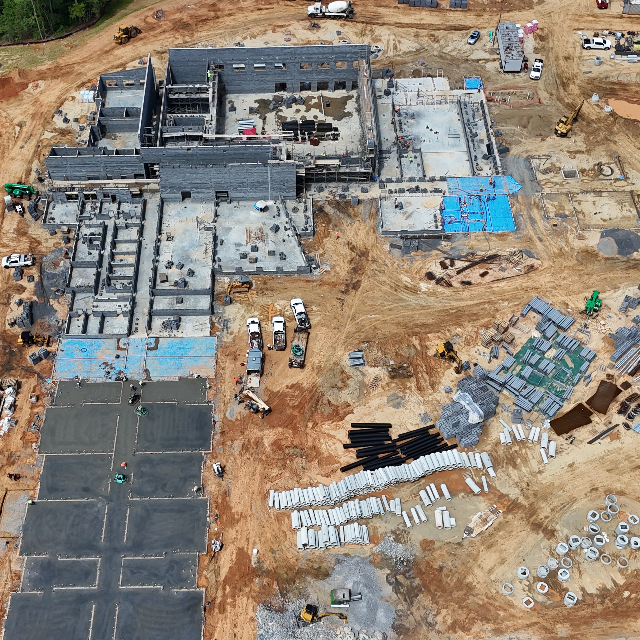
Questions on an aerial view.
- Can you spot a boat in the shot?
No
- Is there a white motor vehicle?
Yes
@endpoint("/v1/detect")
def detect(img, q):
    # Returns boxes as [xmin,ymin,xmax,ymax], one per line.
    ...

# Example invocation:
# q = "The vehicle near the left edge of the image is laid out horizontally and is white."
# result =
[0,254,36,269]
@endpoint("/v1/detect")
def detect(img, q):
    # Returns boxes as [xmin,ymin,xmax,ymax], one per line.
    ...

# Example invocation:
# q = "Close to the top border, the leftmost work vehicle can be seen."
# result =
[112,25,146,44]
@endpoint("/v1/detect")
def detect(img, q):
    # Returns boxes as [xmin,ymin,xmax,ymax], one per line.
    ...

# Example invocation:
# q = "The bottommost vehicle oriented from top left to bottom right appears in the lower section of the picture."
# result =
[227,384,269,417]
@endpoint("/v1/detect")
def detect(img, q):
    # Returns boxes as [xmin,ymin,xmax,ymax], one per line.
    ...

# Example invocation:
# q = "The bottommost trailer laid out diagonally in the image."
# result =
[453,502,505,538]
